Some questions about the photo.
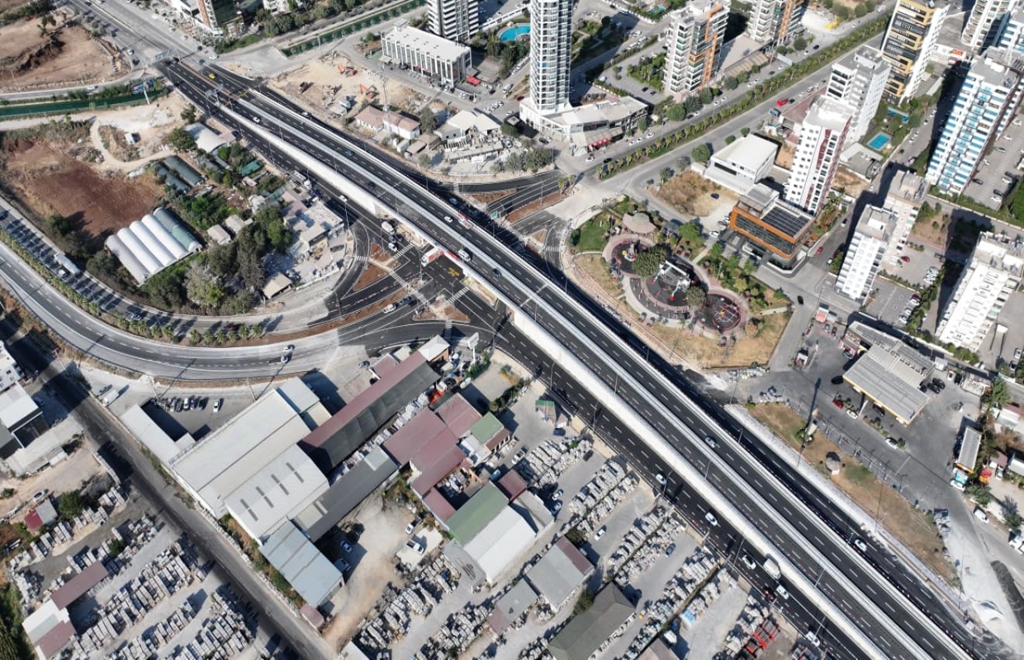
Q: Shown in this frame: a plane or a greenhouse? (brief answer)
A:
greenhouse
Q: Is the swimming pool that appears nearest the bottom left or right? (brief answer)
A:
right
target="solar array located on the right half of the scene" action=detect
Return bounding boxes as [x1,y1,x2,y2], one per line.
[758,202,810,238]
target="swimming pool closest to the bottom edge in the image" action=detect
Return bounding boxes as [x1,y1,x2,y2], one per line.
[864,129,894,151]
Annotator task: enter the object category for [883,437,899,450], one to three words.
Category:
vehicle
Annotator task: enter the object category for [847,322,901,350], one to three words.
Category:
building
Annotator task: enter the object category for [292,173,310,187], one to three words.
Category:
vehicle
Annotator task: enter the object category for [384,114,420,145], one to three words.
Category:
house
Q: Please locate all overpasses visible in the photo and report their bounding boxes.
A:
[219,89,974,660]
